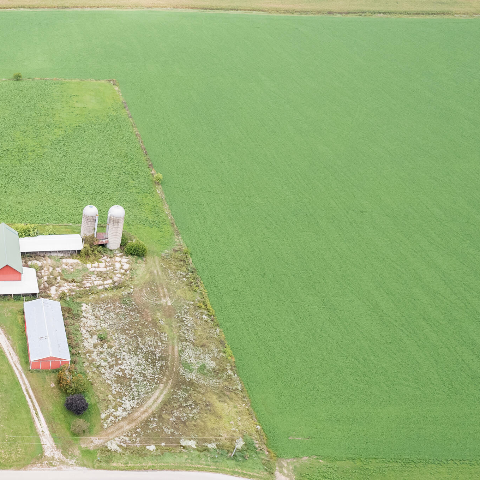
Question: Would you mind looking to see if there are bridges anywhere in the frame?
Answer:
No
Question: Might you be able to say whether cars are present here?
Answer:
No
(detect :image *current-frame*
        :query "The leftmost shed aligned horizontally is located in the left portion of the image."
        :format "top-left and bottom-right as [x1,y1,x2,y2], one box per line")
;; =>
[20,235,82,256]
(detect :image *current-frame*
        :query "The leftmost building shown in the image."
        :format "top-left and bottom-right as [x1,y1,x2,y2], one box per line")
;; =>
[0,222,38,298]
